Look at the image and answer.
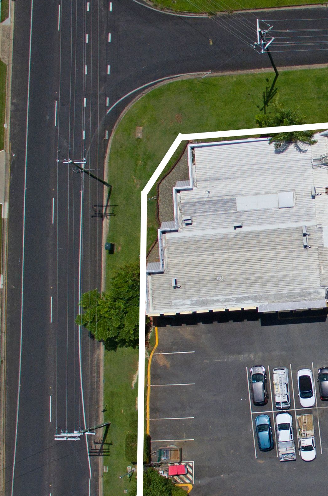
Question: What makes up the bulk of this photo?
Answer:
paved ground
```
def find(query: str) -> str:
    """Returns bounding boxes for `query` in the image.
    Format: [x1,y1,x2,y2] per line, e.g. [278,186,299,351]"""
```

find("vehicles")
[275,411,297,464]
[272,367,292,409]
[316,367,328,401]
[296,413,317,462]
[296,368,316,408]
[253,413,275,452]
[249,364,270,406]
